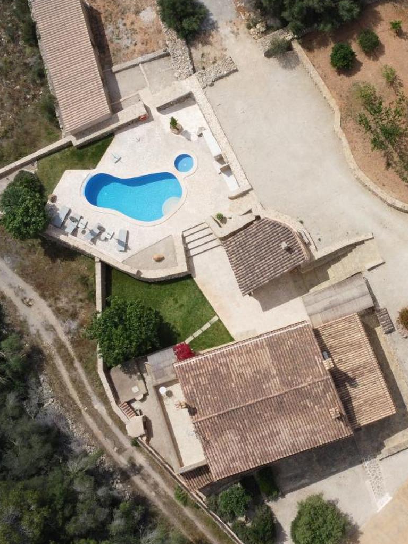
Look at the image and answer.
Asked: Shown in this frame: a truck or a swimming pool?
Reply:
swimming pool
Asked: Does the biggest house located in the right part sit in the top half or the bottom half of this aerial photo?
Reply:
bottom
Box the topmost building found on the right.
[221,217,309,296]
